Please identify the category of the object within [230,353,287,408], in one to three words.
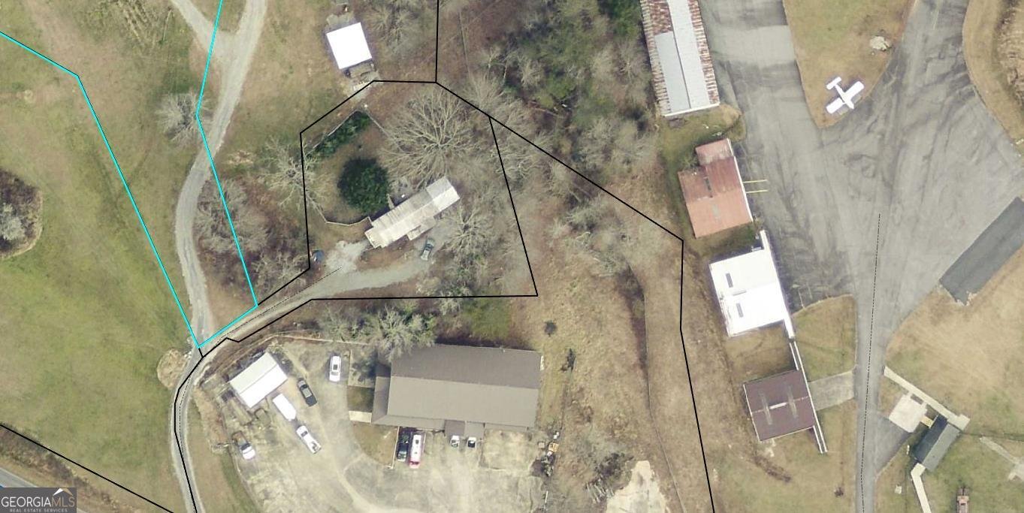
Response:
building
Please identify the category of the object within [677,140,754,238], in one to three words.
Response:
hangar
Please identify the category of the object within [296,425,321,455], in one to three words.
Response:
truck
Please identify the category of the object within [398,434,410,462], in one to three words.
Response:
vehicle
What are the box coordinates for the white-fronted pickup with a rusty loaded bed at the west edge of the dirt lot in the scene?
[232,429,256,462]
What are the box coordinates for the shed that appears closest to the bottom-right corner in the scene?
[910,416,959,470]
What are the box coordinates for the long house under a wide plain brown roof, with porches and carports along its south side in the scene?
[372,344,542,439]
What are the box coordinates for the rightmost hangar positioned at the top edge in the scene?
[639,0,720,117]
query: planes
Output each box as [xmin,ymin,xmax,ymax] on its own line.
[827,76,864,111]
